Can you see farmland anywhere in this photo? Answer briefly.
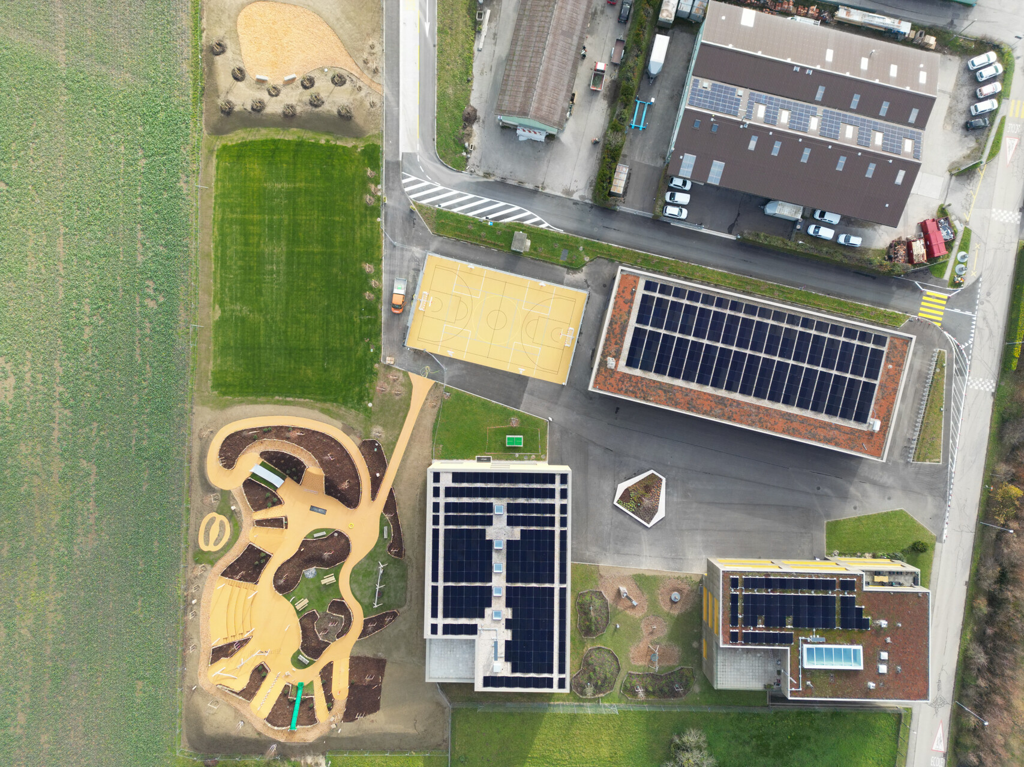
Yes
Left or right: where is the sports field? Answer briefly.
left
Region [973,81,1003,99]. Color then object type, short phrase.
white car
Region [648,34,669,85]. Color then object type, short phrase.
white trailer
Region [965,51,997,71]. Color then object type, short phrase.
white car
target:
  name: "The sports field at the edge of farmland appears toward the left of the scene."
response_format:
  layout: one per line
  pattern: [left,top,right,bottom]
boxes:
[211,139,383,415]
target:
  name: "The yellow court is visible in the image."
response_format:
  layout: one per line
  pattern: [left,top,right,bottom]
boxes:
[404,251,590,385]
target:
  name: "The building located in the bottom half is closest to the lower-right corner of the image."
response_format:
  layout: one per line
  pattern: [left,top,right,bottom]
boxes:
[698,556,931,702]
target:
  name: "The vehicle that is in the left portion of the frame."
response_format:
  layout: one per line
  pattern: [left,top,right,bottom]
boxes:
[389,277,407,314]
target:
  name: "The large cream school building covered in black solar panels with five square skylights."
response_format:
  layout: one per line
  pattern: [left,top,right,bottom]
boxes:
[424,462,571,693]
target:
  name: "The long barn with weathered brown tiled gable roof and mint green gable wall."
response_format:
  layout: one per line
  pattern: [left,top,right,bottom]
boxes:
[495,0,592,135]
